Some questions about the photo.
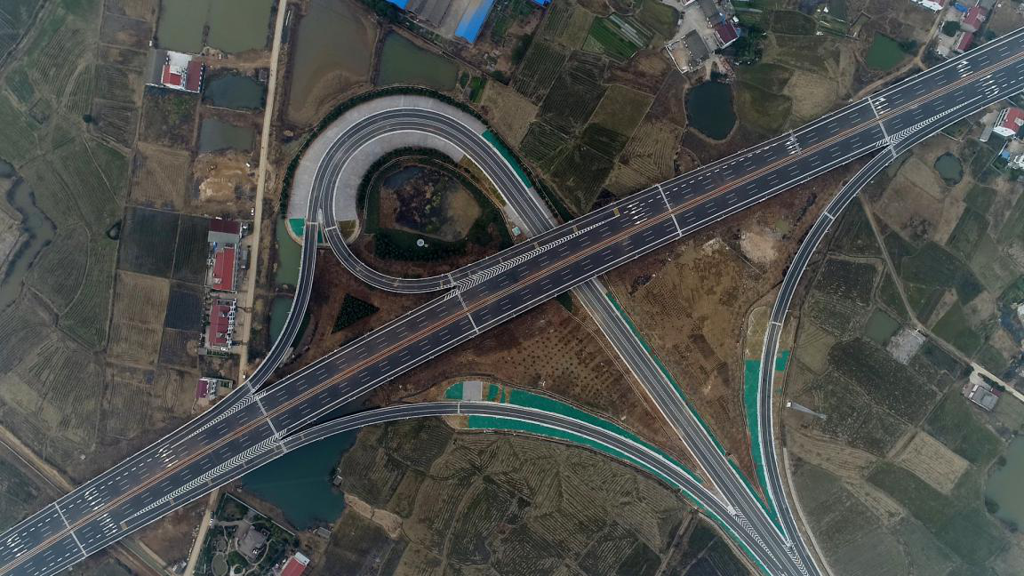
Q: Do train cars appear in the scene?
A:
No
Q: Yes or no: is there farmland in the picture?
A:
Yes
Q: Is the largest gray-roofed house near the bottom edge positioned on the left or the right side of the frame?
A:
left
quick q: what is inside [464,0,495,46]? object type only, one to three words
building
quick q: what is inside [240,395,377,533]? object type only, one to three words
pond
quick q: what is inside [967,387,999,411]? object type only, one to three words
house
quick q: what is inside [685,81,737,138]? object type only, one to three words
pond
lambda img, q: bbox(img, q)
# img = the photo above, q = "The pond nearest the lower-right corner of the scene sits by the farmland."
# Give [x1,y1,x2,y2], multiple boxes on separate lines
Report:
[983,433,1024,535]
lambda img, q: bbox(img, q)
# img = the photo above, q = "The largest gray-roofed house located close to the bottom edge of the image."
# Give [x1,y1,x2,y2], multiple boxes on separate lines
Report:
[238,526,270,560]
